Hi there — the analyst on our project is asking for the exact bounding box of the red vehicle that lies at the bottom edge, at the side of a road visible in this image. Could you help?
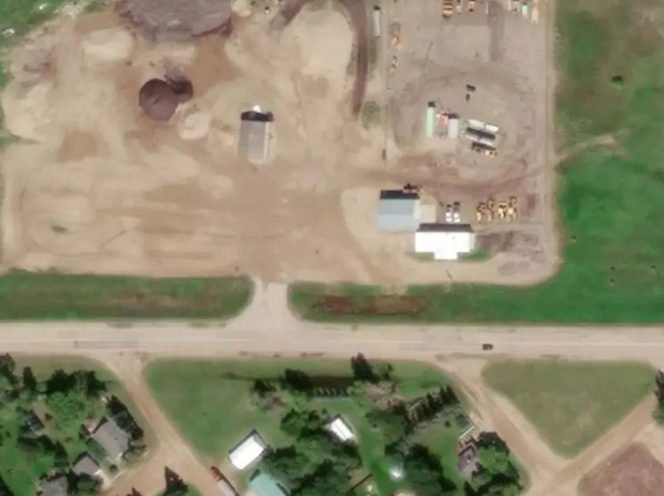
[212,467,225,483]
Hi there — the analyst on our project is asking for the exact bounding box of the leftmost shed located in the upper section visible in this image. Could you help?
[244,119,272,162]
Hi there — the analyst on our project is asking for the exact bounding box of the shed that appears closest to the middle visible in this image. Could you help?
[377,200,421,231]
